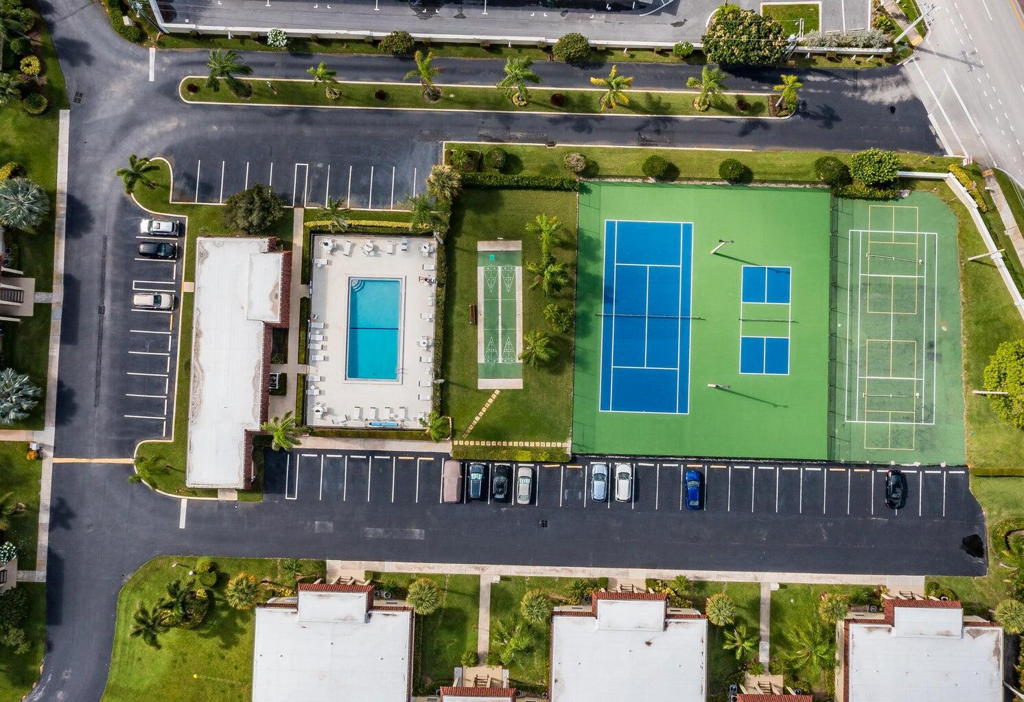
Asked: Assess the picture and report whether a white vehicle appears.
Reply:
Yes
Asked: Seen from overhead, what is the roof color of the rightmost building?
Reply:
white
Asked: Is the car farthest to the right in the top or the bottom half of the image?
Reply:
bottom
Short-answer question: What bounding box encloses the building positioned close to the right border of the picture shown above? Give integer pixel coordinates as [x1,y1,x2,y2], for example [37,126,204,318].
[833,585,1010,702]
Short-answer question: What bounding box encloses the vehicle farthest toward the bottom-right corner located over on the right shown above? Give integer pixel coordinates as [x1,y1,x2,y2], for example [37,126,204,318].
[884,469,904,509]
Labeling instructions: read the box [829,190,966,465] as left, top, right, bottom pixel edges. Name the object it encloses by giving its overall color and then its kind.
green tennis court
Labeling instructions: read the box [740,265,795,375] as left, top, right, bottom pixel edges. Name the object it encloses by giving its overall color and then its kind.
blue sports court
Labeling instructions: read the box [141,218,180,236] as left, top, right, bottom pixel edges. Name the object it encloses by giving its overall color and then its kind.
white car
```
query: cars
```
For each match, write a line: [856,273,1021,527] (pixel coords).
[467,463,485,500]
[141,218,180,236]
[492,464,510,504]
[516,466,534,505]
[138,241,178,259]
[684,470,702,510]
[615,463,633,502]
[589,462,608,502]
[884,469,904,509]
[133,292,174,311]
